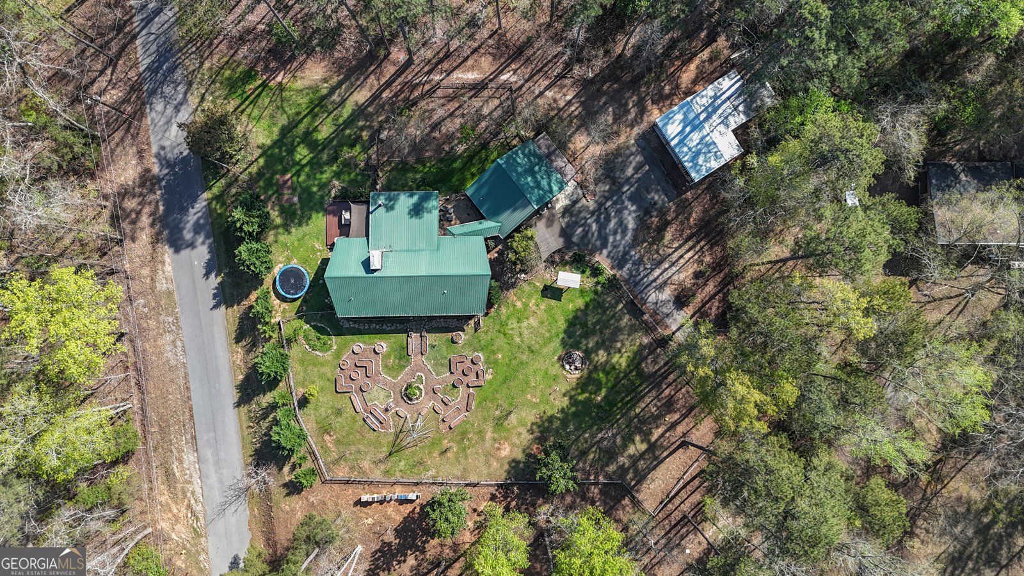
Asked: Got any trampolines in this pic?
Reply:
Yes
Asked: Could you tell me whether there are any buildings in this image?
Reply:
Yes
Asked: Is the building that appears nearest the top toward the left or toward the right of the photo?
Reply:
right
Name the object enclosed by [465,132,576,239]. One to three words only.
building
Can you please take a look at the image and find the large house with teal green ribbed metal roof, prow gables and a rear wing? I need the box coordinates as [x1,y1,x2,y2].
[324,191,491,318]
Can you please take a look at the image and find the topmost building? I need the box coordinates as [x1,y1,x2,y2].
[653,70,780,183]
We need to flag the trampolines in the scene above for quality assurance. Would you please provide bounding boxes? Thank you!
[276,266,310,300]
